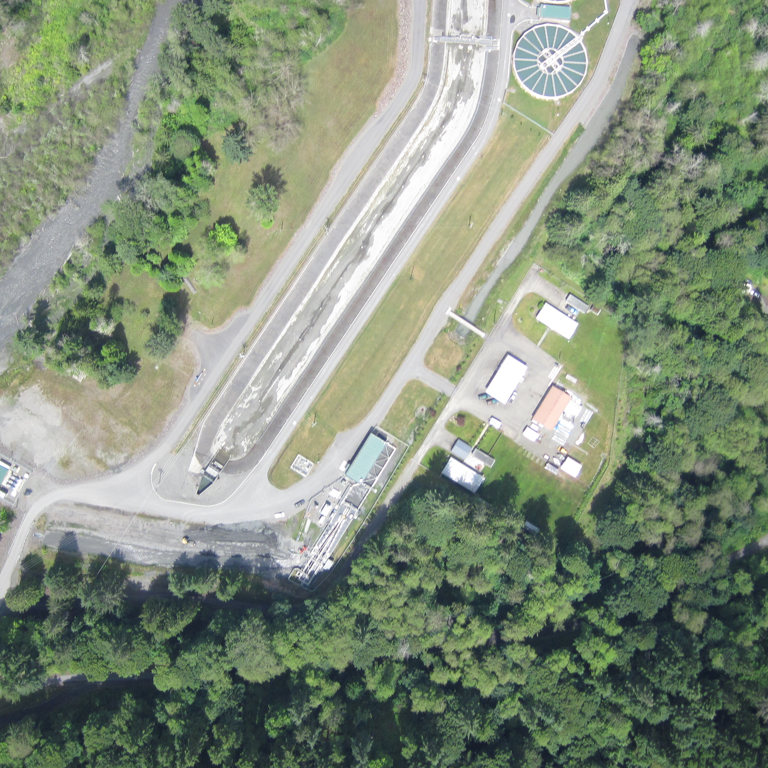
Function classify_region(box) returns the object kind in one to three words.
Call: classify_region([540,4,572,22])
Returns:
building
